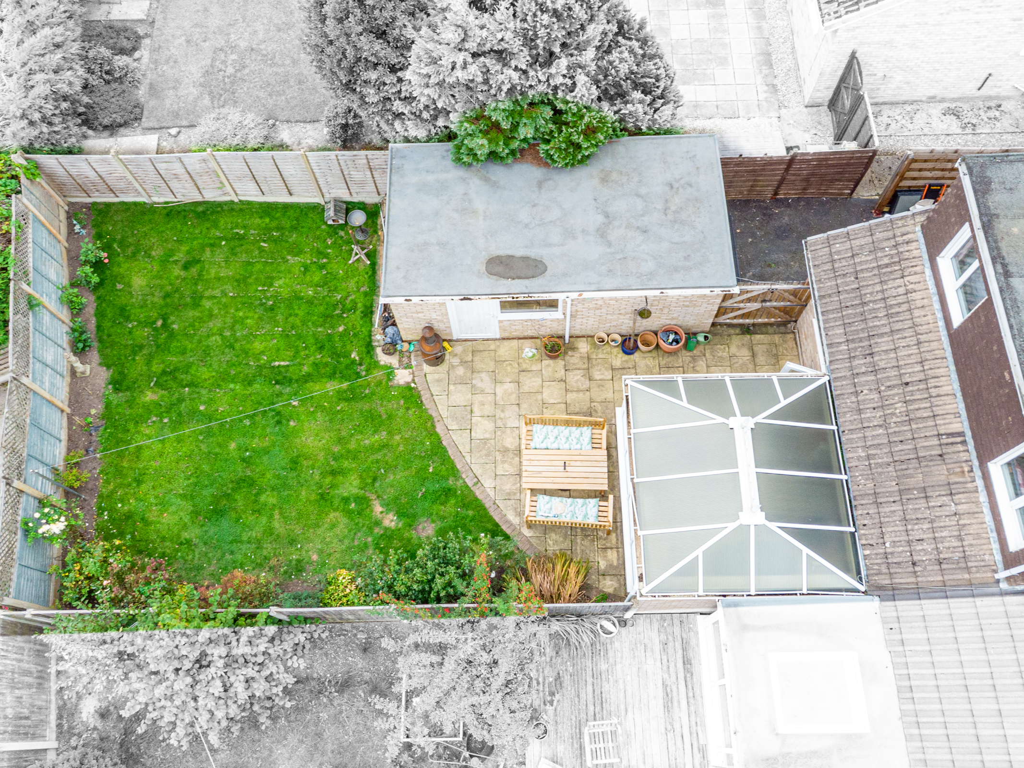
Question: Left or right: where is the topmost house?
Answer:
right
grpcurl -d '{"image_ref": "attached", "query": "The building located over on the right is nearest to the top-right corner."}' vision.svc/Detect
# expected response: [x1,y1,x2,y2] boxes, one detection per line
[785,0,1024,105]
